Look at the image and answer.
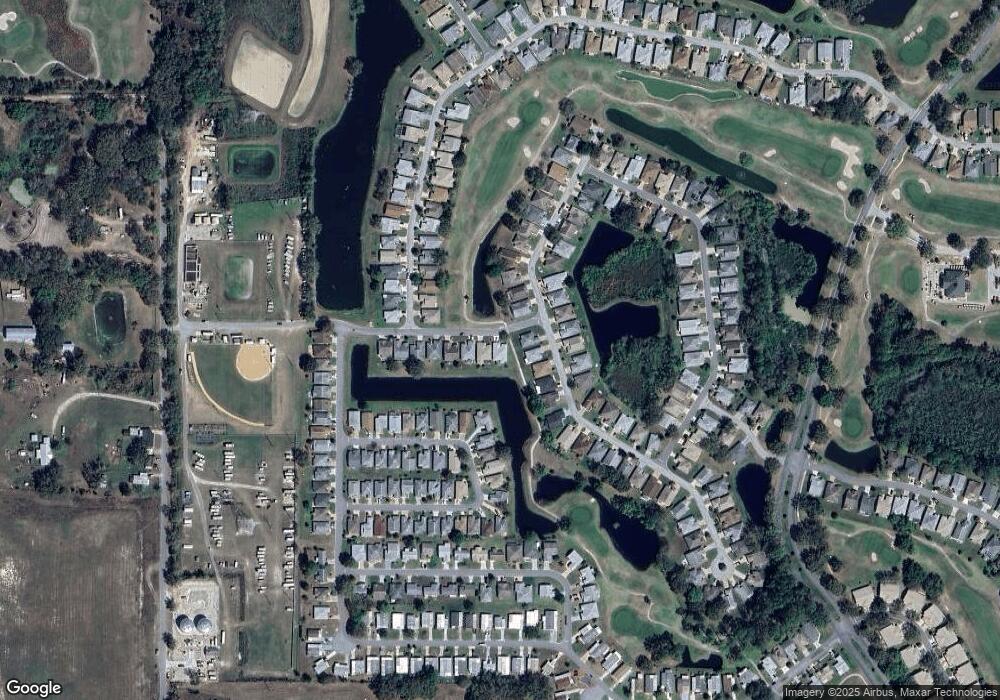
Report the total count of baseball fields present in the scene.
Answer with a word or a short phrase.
one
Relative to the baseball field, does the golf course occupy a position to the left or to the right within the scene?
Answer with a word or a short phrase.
on the right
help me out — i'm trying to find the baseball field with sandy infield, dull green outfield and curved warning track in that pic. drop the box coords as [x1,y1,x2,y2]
[190,345,274,427]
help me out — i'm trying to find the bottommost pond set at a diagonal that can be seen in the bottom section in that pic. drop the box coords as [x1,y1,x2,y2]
[534,475,663,569]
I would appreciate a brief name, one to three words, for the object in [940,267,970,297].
building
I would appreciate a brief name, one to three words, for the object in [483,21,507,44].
house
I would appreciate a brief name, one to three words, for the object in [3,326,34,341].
shed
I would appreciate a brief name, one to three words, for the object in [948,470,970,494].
house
